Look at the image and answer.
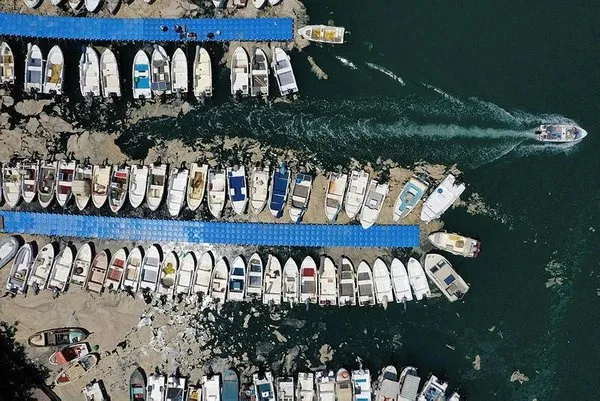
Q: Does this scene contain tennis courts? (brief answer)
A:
No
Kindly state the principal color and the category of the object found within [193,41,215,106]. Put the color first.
white boat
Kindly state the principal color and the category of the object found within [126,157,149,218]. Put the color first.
white boat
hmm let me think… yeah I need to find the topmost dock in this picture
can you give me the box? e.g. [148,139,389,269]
[0,11,295,41]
